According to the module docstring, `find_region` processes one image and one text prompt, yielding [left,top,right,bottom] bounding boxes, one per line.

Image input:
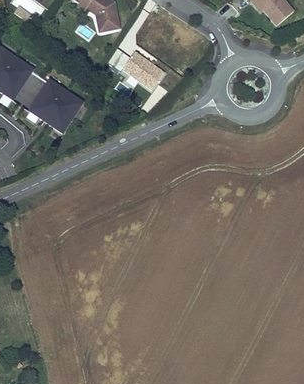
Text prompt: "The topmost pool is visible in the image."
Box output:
[75,24,96,42]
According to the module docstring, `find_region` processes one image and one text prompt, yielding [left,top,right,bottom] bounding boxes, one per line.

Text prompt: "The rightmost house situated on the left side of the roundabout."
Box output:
[123,50,166,93]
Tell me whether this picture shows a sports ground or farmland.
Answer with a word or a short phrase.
farmland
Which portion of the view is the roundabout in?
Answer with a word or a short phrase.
top right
